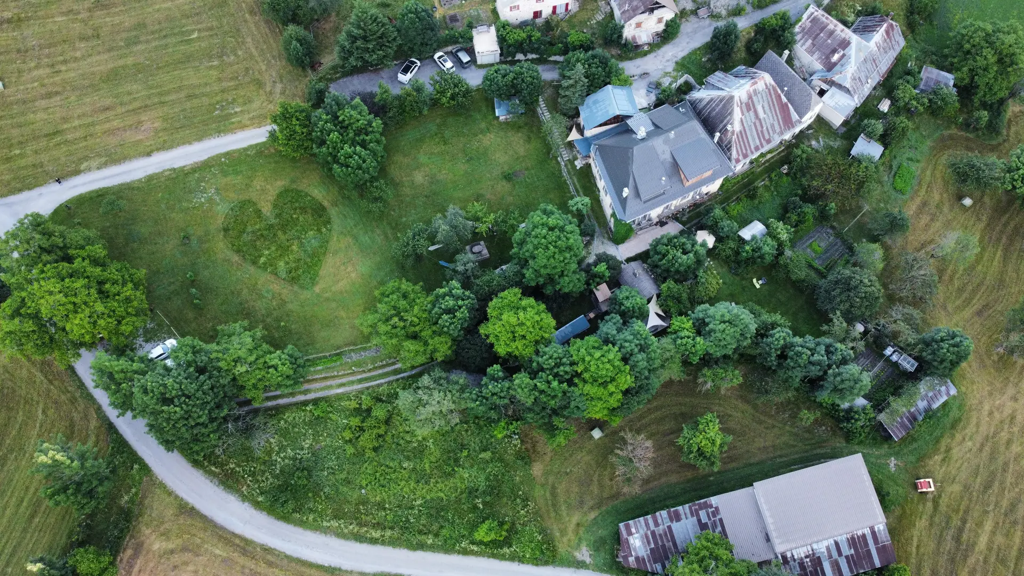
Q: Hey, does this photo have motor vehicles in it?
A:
Yes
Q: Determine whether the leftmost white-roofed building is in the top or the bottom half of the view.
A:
top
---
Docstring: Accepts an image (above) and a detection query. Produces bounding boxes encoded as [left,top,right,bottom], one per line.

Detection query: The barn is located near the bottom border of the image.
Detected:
[616,452,895,576]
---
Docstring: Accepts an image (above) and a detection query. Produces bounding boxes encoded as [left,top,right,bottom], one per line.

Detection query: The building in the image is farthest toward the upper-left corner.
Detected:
[472,26,500,67]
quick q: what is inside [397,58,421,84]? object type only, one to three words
car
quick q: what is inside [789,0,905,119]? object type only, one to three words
house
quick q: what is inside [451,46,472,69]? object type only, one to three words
car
